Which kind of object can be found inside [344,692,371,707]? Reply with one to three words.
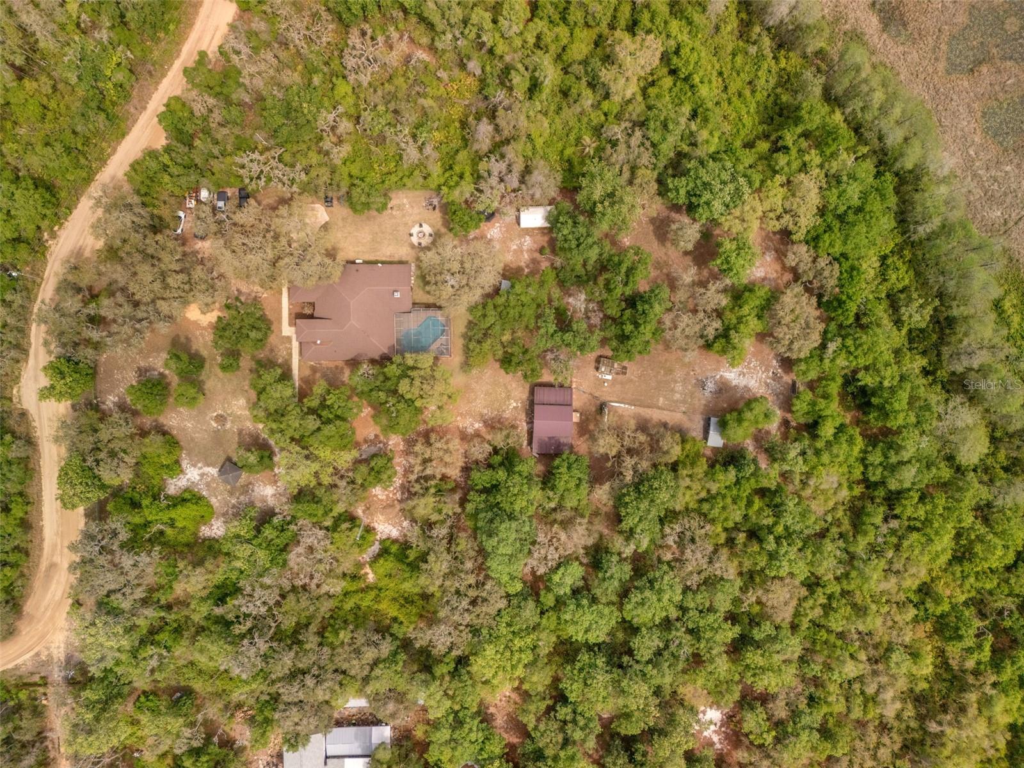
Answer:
shed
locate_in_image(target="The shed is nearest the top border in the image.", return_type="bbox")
[520,206,552,230]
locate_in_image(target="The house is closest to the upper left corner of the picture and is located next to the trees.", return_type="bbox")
[289,263,411,360]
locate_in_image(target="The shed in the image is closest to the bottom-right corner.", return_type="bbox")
[706,417,722,447]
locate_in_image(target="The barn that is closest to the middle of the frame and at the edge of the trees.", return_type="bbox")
[533,387,573,457]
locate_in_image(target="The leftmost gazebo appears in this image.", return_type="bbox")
[218,461,244,485]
